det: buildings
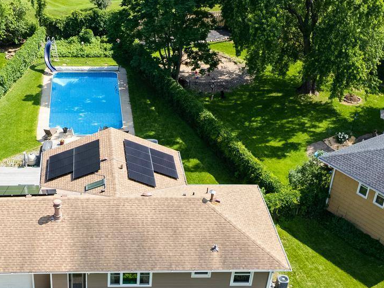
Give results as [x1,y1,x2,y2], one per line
[0,127,294,288]
[317,134,384,241]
